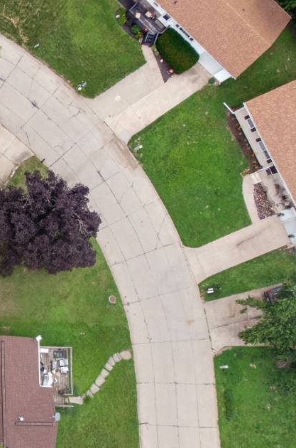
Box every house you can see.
[223,78,296,258]
[0,333,60,448]
[129,0,296,84]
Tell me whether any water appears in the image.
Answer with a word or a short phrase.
No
